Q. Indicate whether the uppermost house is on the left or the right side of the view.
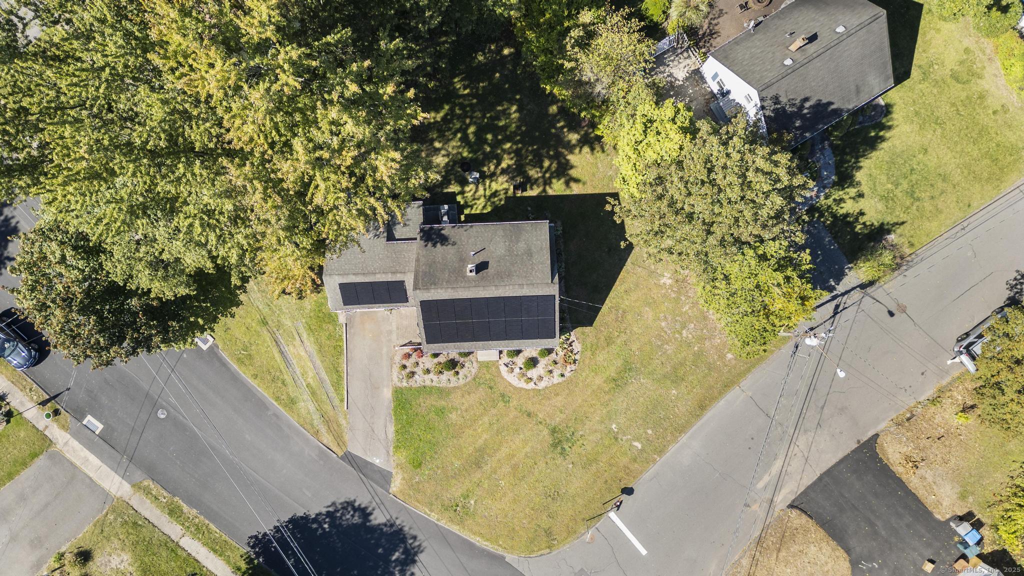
right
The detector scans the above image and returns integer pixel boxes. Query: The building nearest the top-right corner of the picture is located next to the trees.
[701,0,896,163]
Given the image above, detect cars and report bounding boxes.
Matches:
[959,306,1024,372]
[0,315,38,371]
